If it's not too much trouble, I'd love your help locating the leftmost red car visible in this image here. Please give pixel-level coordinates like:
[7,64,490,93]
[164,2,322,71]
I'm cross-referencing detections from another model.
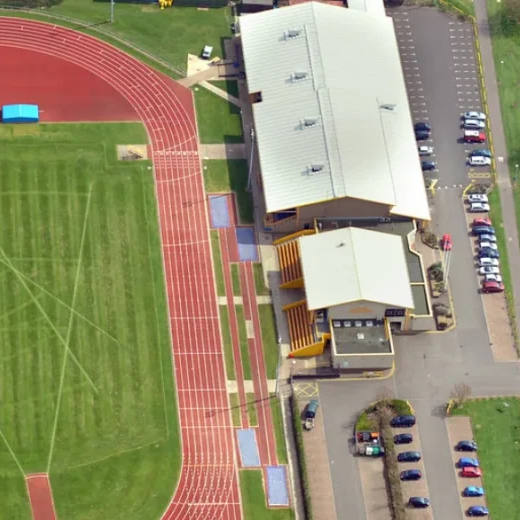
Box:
[441,234,454,250]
